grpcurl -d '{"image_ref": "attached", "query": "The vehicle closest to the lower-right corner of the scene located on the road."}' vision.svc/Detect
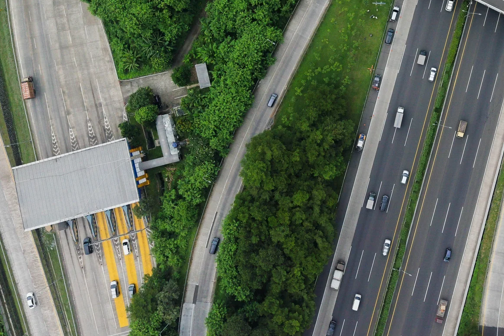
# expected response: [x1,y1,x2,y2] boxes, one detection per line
[434,298,449,324]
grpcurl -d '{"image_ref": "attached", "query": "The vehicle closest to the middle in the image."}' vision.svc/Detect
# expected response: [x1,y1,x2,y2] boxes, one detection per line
[266,92,279,108]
